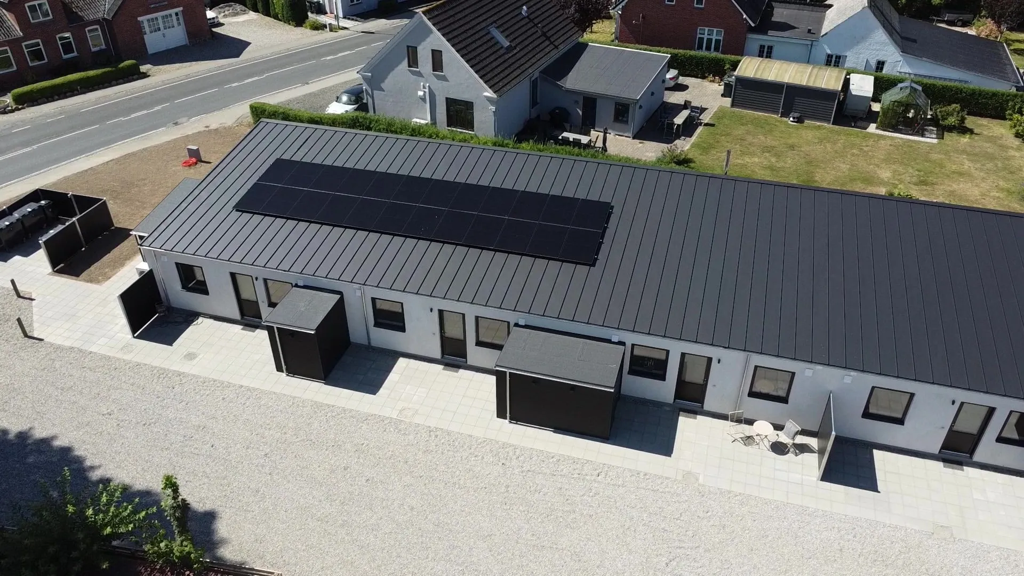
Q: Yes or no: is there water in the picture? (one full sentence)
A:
No, water can't be seen anywhere here.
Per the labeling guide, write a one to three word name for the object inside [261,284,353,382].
shed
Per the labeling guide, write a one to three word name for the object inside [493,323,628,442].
shed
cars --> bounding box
[666,66,686,88]
[203,0,226,22]
[325,83,373,116]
